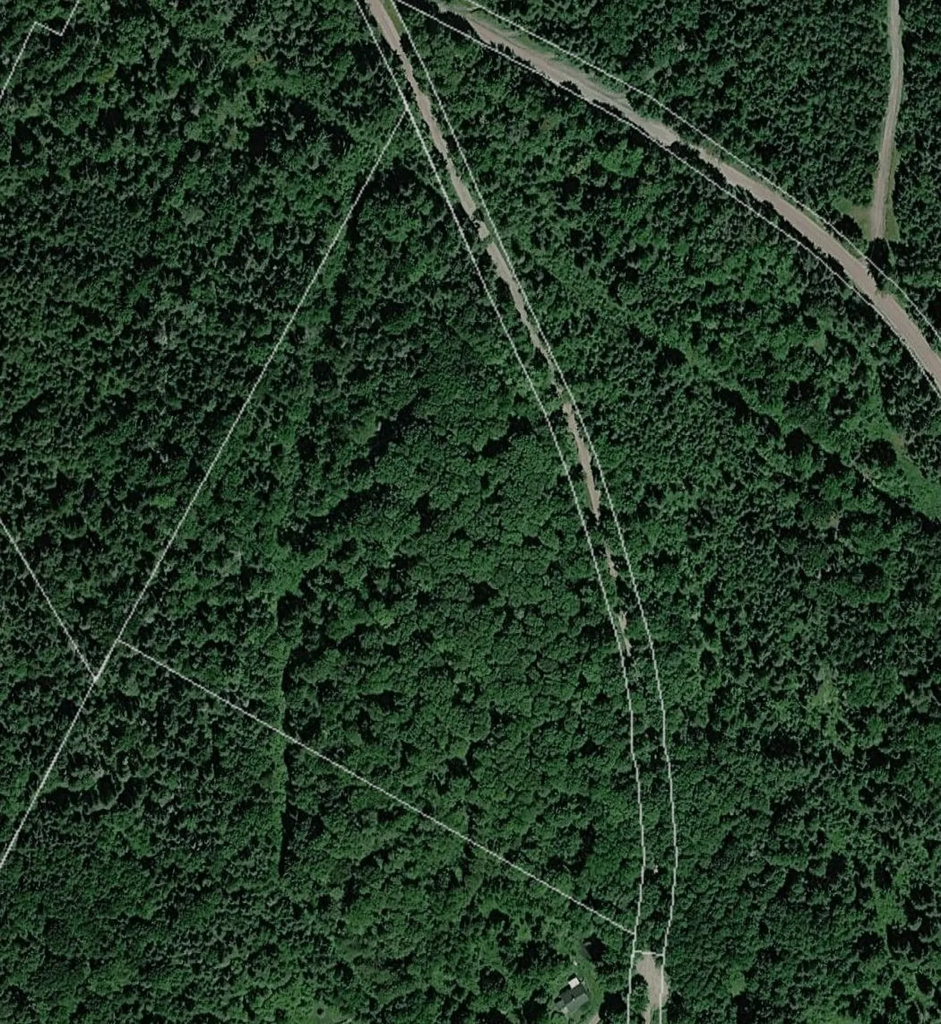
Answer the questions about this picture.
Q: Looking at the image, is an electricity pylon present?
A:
No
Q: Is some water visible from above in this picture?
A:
No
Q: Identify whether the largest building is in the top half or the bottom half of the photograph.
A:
bottom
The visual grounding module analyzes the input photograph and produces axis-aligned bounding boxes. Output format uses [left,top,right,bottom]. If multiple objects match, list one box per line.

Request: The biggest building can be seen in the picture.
[559,982,587,1012]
